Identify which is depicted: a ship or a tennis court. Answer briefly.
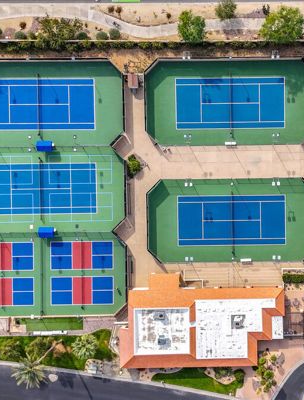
tennis court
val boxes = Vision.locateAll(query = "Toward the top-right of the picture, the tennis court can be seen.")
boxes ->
[147,61,304,147]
